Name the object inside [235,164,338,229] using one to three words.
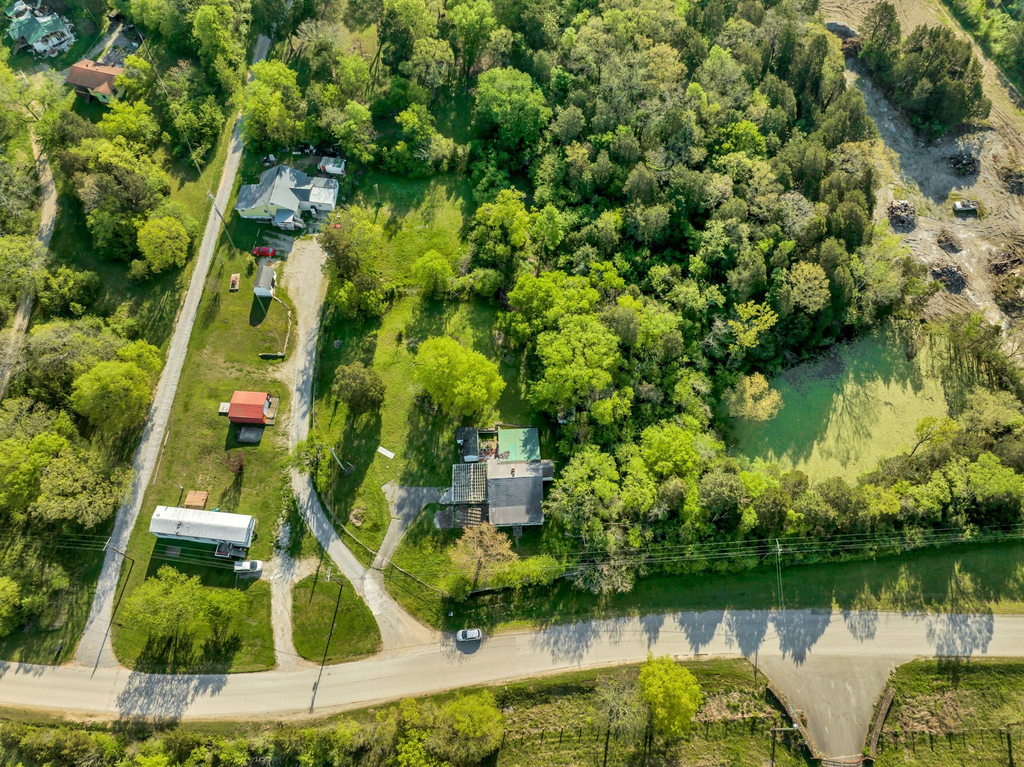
house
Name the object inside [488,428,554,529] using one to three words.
house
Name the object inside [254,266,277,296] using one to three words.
shed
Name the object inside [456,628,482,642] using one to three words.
car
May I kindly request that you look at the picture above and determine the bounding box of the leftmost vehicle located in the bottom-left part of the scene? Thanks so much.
[234,560,264,573]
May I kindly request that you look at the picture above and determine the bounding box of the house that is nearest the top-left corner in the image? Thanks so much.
[7,5,82,60]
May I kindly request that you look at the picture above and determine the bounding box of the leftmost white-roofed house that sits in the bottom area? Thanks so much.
[148,505,258,559]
